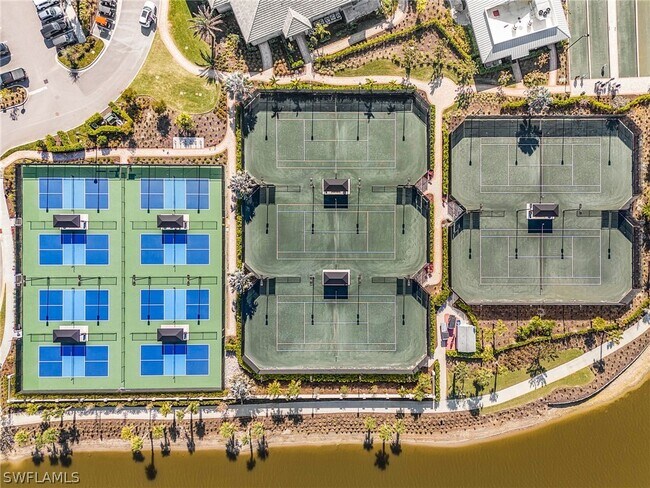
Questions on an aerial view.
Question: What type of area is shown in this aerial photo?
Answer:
sports ground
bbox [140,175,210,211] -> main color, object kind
blue sports court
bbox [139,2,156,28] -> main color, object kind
white car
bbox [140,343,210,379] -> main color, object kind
blue sports court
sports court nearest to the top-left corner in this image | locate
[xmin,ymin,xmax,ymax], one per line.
[39,175,109,211]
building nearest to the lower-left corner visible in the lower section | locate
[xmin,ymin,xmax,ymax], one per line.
[53,327,88,343]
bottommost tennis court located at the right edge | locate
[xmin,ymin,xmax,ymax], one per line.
[451,211,632,303]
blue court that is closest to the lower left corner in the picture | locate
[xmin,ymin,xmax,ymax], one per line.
[39,343,109,379]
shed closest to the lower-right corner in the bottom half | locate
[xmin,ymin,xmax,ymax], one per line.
[455,325,476,352]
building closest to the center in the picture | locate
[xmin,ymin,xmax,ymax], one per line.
[322,270,350,286]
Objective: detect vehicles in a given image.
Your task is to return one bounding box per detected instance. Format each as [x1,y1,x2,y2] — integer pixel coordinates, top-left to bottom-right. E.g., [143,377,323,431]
[446,314,456,328]
[95,16,117,30]
[51,33,78,48]
[38,6,65,22]
[139,2,156,28]
[0,69,29,87]
[40,20,69,36]
[34,0,61,10]
[439,322,448,340]
[0,44,12,56]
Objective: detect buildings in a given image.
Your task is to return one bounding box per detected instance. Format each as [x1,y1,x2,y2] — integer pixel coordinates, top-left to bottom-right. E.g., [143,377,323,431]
[455,325,476,352]
[53,327,88,343]
[157,327,189,343]
[461,0,571,65]
[211,0,380,45]
[322,179,350,195]
[527,203,559,219]
[322,270,350,286]
[157,214,189,229]
[53,214,88,229]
